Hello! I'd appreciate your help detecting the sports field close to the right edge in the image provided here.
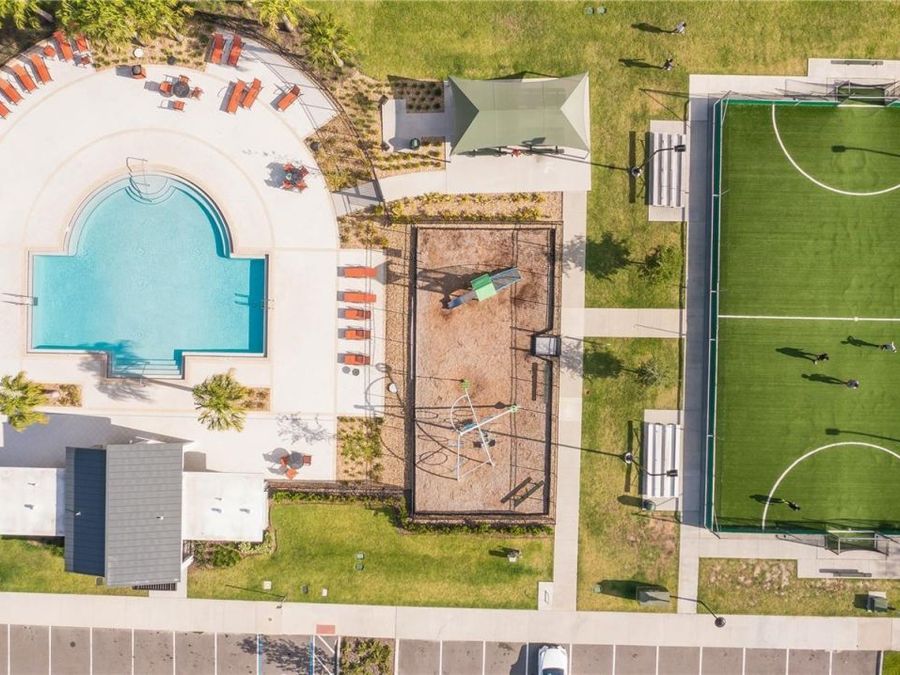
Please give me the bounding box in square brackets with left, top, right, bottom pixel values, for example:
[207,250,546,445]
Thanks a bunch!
[711,86,900,550]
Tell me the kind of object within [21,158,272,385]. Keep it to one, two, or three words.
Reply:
swimming pool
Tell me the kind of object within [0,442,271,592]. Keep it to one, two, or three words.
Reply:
building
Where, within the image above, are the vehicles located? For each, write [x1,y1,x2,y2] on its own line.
[536,645,571,675]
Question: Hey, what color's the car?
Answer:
white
